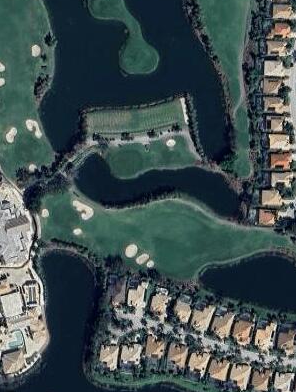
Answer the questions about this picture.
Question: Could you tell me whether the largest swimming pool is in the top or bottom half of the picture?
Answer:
bottom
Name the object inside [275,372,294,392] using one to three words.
house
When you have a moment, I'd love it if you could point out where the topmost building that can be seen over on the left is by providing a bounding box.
[0,200,30,267]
